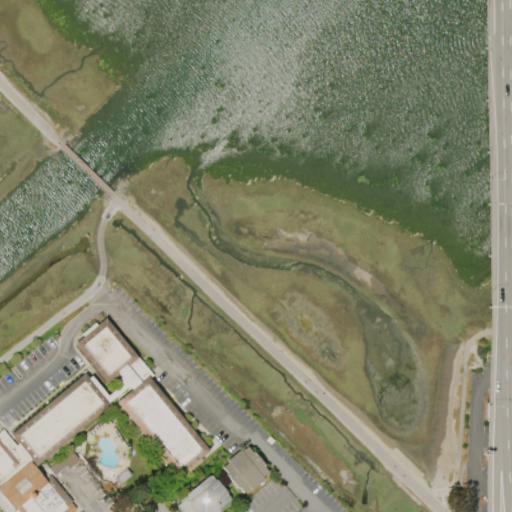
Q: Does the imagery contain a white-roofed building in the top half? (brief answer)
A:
No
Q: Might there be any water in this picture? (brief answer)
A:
Yes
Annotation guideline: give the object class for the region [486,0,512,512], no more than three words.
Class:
bridge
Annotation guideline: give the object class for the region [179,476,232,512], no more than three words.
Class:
house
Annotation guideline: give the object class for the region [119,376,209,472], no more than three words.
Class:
building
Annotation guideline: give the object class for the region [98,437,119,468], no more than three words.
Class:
swimming pool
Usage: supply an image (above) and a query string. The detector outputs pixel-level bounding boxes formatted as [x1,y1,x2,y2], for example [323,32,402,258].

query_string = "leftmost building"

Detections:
[0,430,32,486]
